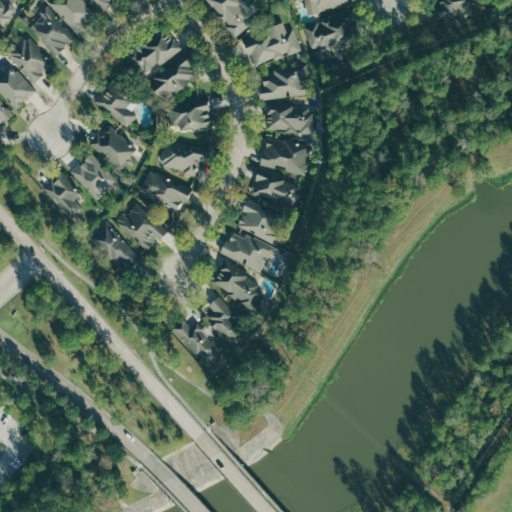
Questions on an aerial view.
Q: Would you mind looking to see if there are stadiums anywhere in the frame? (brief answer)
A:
No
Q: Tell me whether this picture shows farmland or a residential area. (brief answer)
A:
residential area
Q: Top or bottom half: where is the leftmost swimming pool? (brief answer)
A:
top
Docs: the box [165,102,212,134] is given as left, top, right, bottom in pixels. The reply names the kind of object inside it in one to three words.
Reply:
house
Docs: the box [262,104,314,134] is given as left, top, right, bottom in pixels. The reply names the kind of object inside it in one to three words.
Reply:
house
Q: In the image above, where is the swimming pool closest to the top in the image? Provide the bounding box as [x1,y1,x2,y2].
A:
[296,6,320,25]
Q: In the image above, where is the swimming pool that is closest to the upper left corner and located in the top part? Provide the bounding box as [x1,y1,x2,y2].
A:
[134,102,153,128]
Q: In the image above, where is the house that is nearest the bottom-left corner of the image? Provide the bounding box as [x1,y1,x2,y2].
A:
[170,317,218,358]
